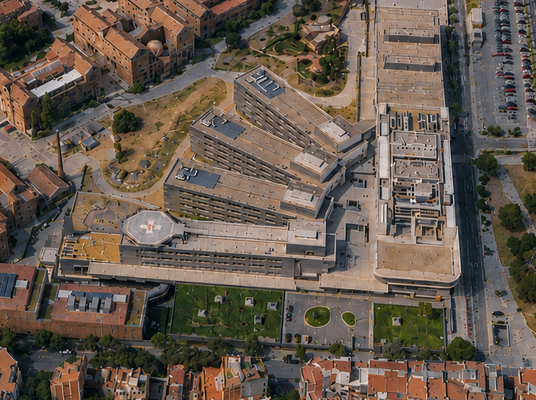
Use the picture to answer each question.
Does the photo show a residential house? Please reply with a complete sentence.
Yes, looking at the shot, I can spot a residential house.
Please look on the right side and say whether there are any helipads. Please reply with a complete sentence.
No, there's no helipad to be seen on the right side.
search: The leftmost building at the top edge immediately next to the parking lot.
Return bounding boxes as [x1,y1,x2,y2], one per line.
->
[374,0,446,114]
